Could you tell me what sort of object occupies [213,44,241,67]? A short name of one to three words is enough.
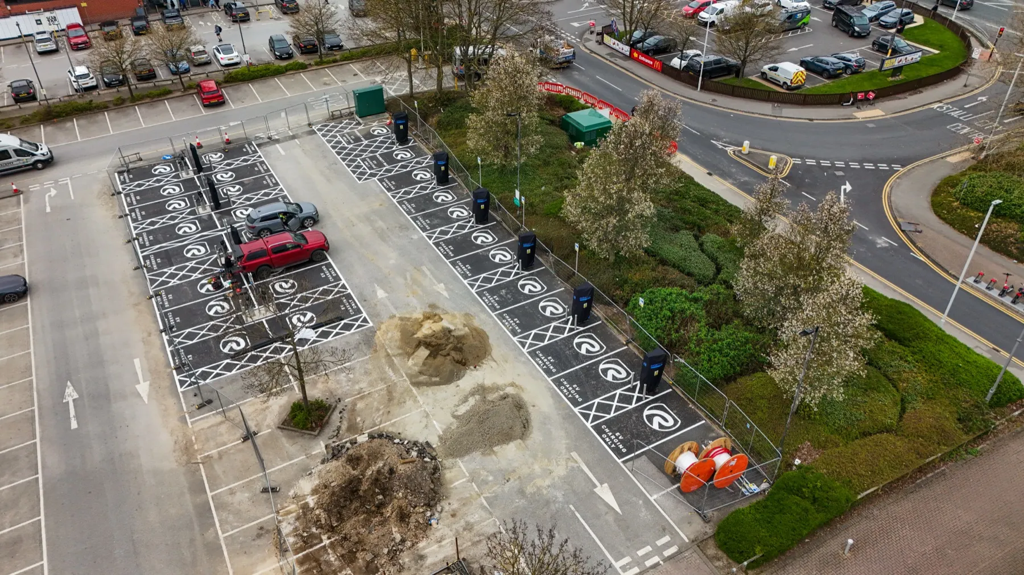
car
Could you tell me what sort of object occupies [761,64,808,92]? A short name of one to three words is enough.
van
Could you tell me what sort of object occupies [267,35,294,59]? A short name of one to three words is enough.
car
